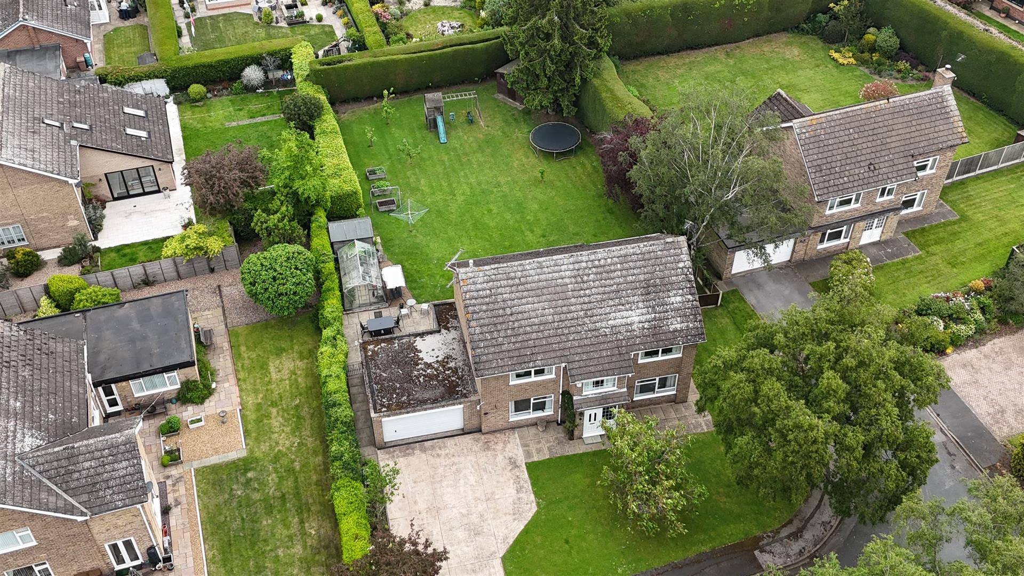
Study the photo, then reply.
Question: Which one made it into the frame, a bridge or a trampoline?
trampoline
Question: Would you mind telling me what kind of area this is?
residential area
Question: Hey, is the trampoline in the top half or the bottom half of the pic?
top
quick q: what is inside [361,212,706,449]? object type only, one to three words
house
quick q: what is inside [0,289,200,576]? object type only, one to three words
house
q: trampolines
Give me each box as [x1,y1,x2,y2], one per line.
[529,122,582,164]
